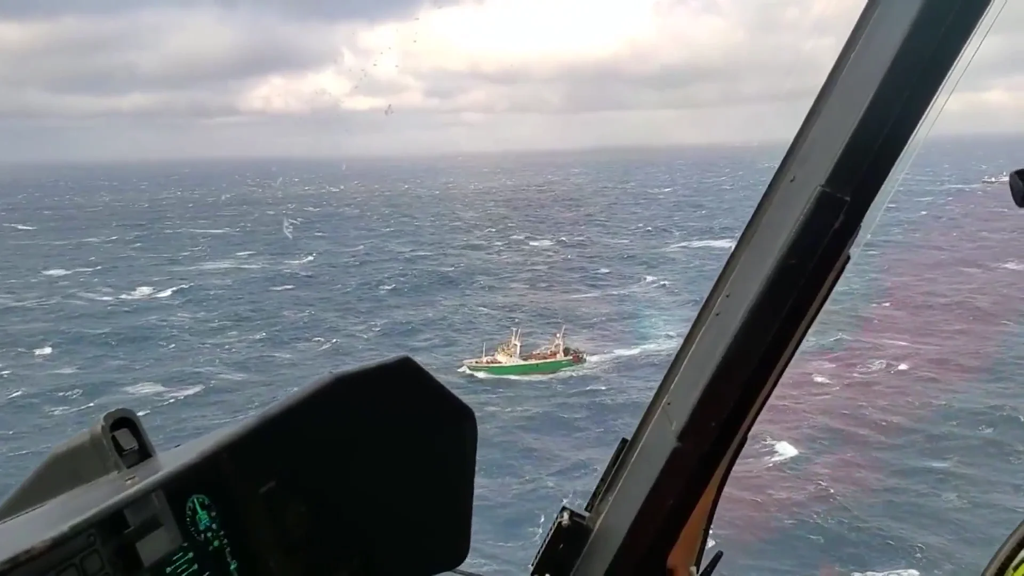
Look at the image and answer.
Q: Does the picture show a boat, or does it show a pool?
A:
boat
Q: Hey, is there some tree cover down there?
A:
No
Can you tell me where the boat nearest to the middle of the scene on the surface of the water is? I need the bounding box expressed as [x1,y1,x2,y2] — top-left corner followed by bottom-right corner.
[464,325,588,376]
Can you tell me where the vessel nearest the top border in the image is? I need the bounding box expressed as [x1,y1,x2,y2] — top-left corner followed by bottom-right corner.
[979,169,1012,184]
